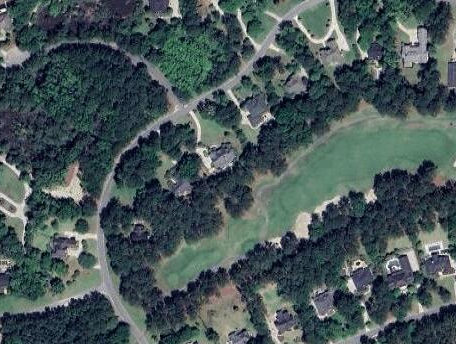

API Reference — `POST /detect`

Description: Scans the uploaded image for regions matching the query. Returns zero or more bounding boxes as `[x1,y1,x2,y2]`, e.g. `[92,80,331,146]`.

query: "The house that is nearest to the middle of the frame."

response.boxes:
[206,144,237,172]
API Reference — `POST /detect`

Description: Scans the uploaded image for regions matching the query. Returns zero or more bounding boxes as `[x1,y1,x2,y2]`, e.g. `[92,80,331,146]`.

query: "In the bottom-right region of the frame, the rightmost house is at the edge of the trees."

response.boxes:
[426,255,453,281]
